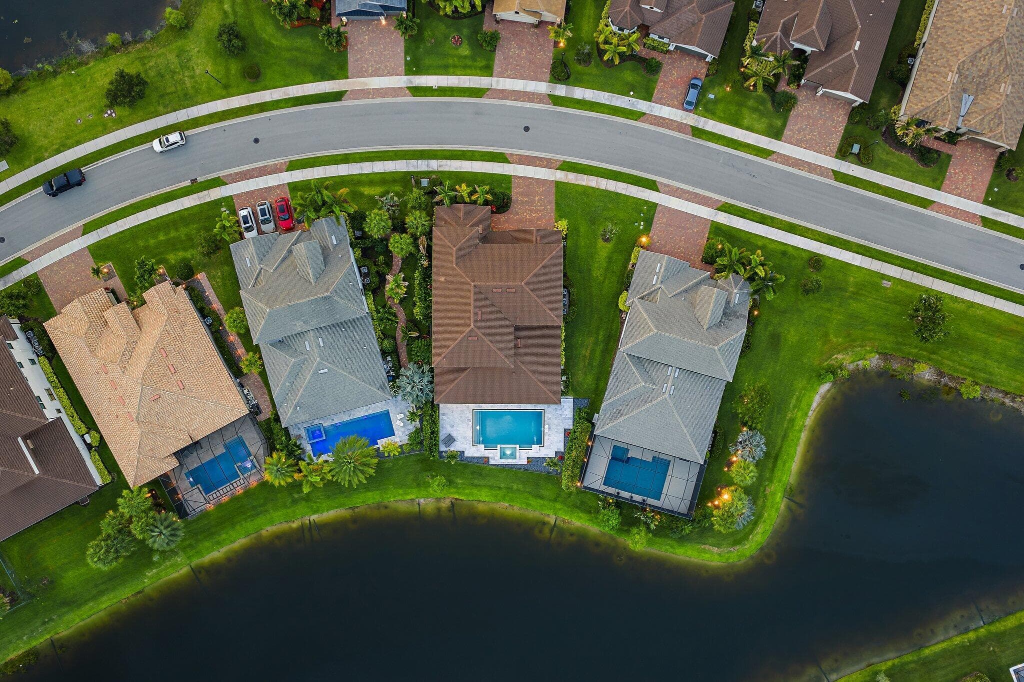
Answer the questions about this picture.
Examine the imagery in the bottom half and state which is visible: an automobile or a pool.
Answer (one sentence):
There is a pool in the bottom half.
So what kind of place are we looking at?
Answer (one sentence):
It's a residential area.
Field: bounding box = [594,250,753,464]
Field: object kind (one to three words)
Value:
house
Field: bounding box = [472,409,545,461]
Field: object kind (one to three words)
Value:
swimming pool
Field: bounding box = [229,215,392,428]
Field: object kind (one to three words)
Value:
house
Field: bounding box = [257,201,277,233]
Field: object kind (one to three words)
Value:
car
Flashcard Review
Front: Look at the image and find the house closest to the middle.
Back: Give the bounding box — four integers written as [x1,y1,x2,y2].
[432,204,563,404]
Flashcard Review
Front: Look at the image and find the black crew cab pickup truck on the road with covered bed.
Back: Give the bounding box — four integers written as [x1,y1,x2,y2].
[45,169,87,195]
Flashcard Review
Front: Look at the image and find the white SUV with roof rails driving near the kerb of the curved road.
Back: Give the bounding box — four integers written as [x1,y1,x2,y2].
[154,132,187,153]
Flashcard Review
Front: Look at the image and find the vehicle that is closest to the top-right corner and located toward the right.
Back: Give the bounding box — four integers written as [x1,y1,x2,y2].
[682,77,701,111]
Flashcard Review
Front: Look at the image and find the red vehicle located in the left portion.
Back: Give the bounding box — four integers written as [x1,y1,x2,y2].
[275,197,295,230]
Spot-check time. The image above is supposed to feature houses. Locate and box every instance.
[608,0,735,65]
[43,281,252,489]
[229,215,392,428]
[335,0,407,23]
[895,0,1024,154]
[0,315,106,542]
[432,204,563,404]
[750,0,900,109]
[493,0,565,28]
[594,250,753,464]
